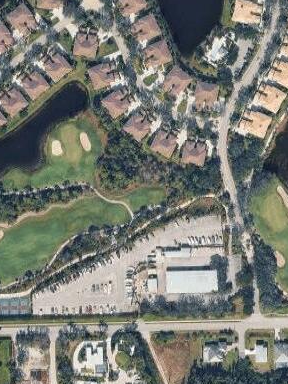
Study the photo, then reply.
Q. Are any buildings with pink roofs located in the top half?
No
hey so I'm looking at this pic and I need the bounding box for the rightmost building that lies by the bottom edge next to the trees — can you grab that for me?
[273,338,288,365]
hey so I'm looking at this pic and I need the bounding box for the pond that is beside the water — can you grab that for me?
[0,81,88,178]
